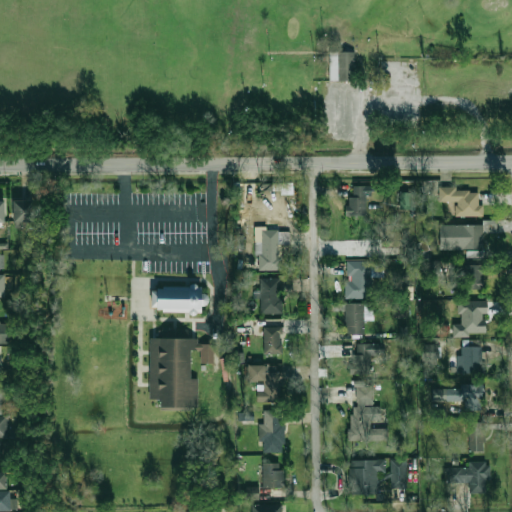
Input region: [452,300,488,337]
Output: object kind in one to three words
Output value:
house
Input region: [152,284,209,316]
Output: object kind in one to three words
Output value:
building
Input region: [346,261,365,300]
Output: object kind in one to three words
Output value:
house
